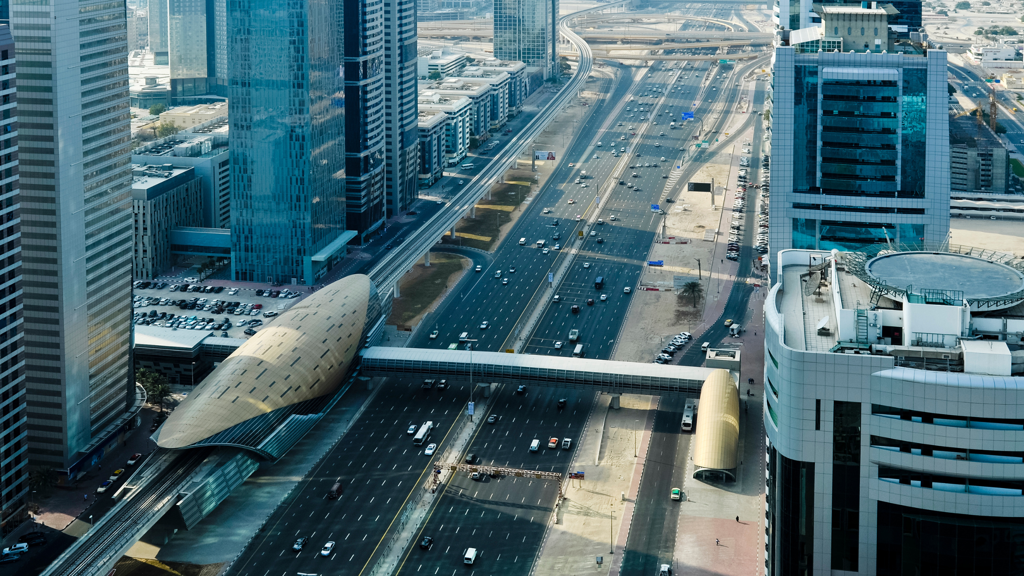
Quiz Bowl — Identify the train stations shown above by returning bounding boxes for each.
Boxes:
[108,263,419,531]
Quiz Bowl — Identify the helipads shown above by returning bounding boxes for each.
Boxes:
[843,236,1024,342]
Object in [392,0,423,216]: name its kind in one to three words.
building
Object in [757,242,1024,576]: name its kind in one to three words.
building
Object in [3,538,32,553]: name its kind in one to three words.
car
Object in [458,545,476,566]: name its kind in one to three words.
vehicle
